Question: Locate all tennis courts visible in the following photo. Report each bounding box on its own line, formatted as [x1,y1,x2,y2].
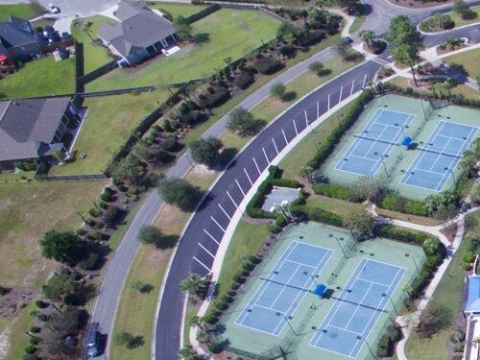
[314,92,434,192]
[384,106,480,199]
[287,238,426,360]
[222,220,358,358]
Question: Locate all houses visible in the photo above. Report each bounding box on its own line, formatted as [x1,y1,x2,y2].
[0,18,52,71]
[0,97,73,170]
[100,1,178,70]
